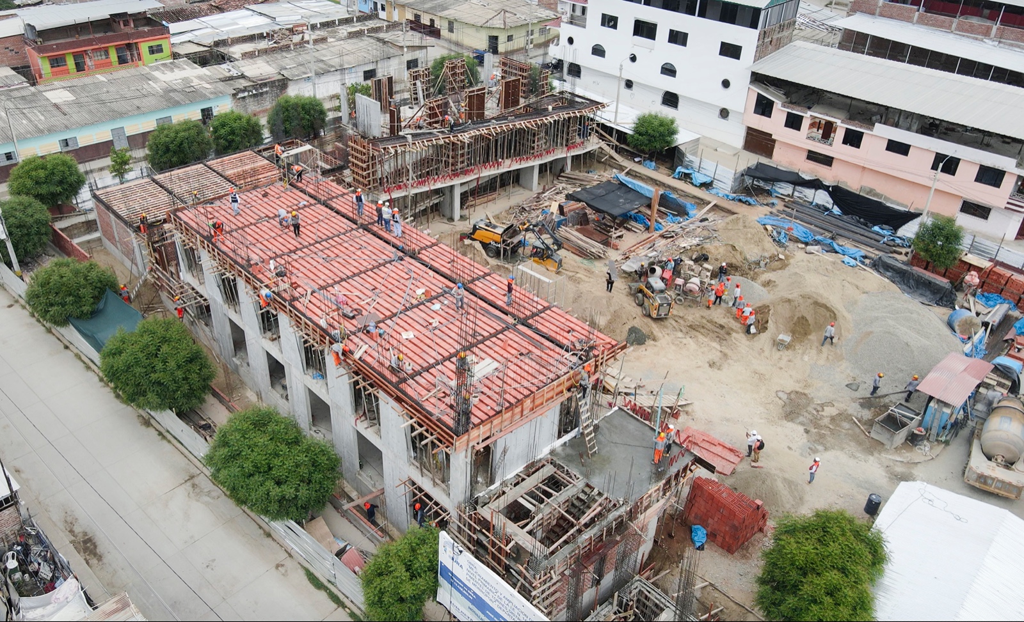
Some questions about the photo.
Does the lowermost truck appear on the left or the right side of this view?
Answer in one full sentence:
You can find the lowermost truck on the right side of the picture.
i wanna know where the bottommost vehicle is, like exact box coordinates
[964,388,1024,493]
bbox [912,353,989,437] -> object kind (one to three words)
shed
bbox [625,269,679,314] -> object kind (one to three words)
work vehicle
